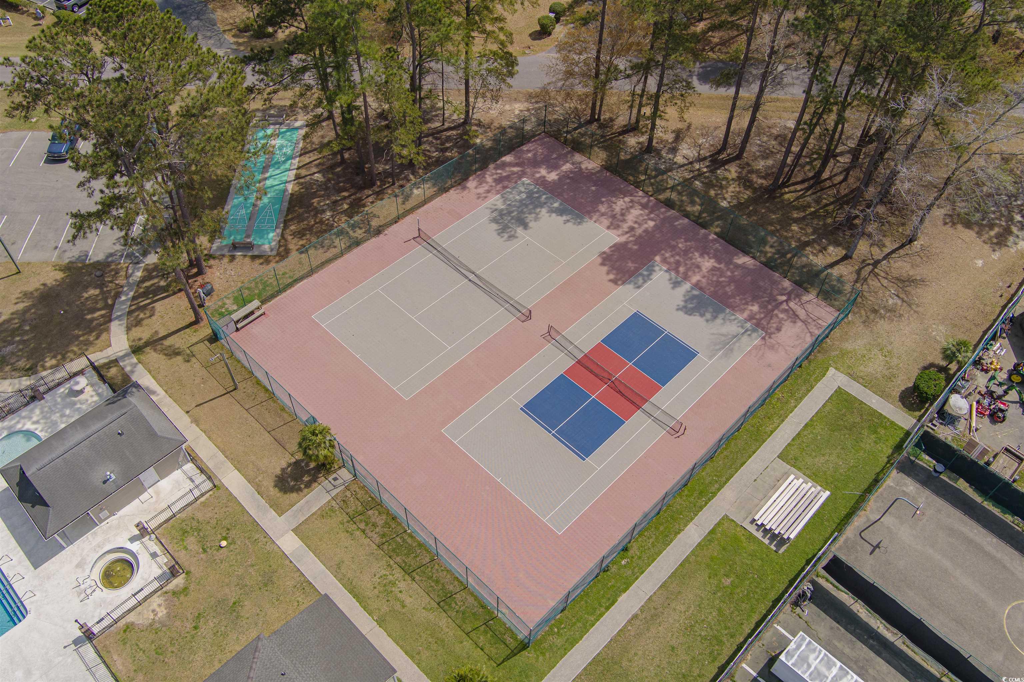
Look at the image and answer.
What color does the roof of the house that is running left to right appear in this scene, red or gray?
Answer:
gray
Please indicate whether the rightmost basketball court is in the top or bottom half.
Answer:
bottom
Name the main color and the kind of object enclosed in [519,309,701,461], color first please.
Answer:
blue sports court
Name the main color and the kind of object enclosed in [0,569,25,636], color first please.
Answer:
blue swimming pool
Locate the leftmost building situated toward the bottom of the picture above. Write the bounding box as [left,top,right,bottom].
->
[0,379,193,556]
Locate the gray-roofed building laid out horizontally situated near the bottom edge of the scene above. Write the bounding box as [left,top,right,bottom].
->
[203,593,398,682]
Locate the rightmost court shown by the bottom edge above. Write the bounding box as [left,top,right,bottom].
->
[834,459,1024,682]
